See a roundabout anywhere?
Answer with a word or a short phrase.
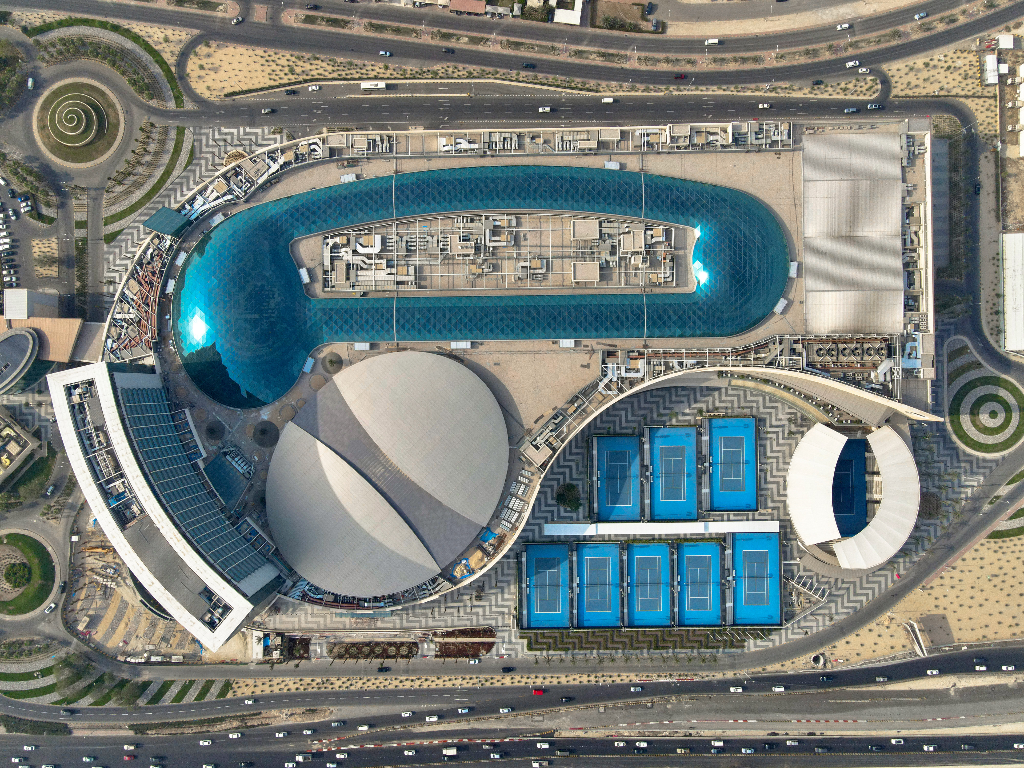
Yes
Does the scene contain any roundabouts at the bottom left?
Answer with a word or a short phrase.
Yes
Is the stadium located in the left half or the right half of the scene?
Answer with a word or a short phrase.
right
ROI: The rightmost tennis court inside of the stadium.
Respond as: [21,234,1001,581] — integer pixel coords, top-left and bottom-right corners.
[834,438,867,538]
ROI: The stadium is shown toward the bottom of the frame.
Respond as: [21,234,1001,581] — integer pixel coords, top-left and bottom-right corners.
[785,418,920,577]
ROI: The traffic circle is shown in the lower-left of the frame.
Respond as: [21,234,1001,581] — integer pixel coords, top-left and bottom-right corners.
[0,528,60,620]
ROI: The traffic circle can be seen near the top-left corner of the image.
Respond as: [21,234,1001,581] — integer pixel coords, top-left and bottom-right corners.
[33,77,125,168]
